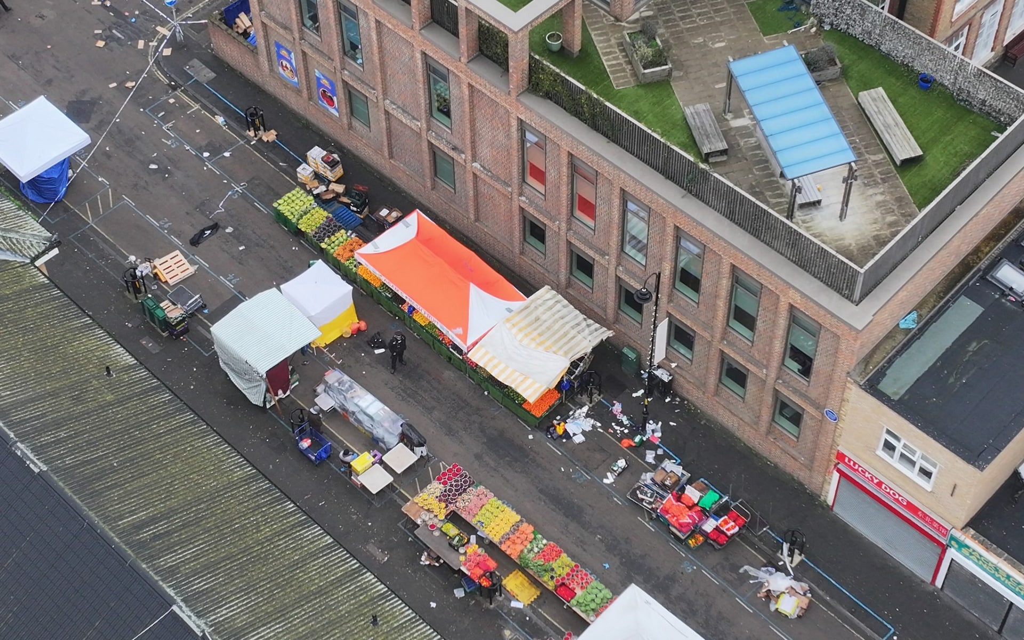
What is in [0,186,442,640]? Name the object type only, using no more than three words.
building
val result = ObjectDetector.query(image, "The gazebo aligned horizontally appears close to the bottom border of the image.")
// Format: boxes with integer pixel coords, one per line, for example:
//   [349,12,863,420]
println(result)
[580,585,706,640]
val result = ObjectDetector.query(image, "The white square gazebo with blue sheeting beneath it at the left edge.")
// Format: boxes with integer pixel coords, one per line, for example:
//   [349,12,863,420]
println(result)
[0,99,100,224]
